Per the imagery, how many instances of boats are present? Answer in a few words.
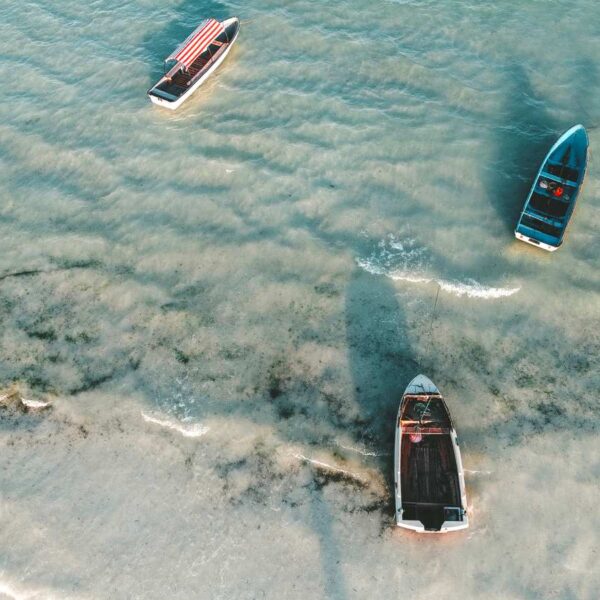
three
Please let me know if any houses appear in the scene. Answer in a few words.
No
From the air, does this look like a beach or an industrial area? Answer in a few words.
beach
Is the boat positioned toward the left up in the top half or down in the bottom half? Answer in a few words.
top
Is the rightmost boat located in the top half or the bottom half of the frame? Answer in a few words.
top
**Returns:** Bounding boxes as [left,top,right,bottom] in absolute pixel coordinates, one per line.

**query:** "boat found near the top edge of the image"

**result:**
[149,18,241,111]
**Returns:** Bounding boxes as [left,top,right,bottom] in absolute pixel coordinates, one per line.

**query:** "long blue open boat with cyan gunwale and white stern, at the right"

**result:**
[518,125,589,253]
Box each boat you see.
[518,125,589,253]
[391,373,468,531]
[149,18,241,111]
